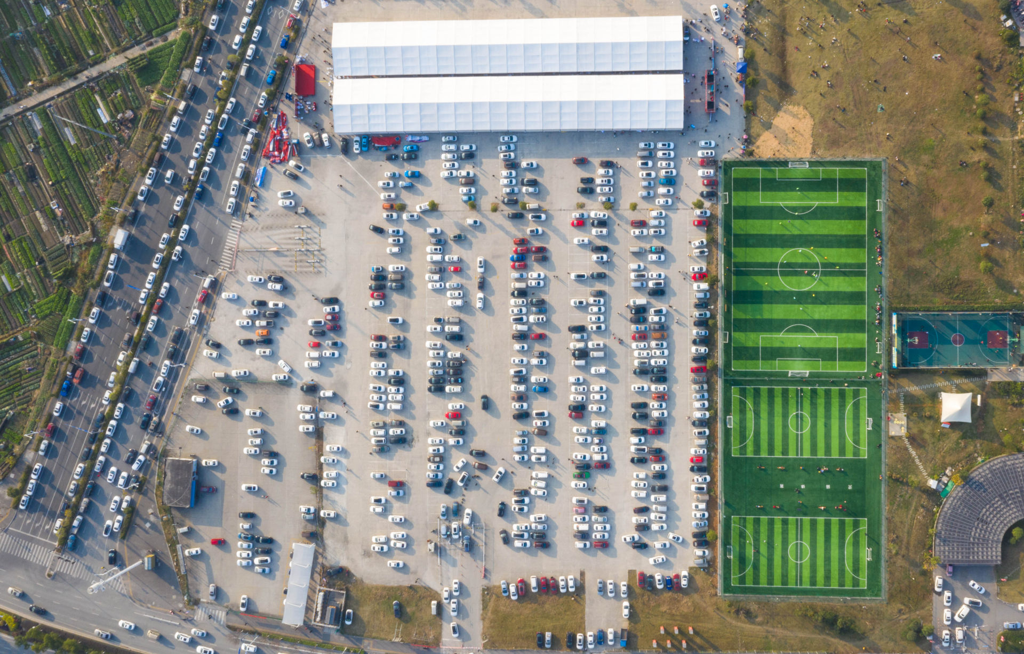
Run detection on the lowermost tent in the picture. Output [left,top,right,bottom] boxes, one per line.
[935,391,972,423]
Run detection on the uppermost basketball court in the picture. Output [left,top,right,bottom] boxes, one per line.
[894,311,1024,368]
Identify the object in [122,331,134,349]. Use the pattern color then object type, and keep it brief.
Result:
gray vehicle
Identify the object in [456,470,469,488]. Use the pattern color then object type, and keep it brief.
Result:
white vehicle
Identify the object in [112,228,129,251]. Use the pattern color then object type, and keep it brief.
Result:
white vehicle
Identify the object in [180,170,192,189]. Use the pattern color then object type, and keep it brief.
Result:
gray vehicle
